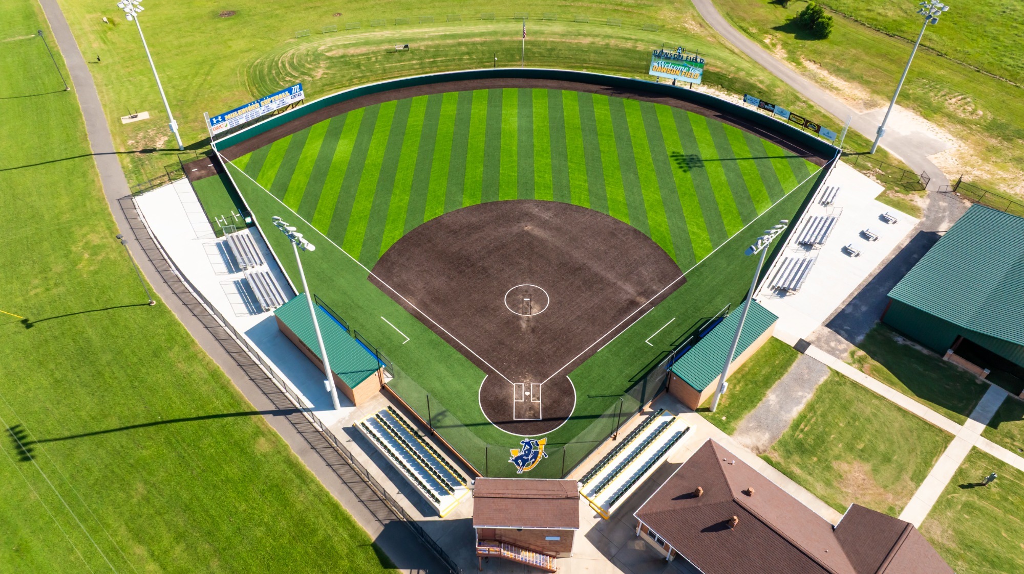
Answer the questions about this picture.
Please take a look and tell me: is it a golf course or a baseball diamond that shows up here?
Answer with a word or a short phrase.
baseball diamond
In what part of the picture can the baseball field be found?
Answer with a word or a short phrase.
center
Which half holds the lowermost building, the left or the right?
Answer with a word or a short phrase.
right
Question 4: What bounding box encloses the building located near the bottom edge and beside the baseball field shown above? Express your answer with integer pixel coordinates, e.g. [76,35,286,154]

[631,437,961,574]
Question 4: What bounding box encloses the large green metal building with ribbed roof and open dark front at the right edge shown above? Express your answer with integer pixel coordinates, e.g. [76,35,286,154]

[880,203,1024,404]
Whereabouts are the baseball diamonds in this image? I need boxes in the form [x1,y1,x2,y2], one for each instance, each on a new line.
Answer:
[218,78,836,478]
